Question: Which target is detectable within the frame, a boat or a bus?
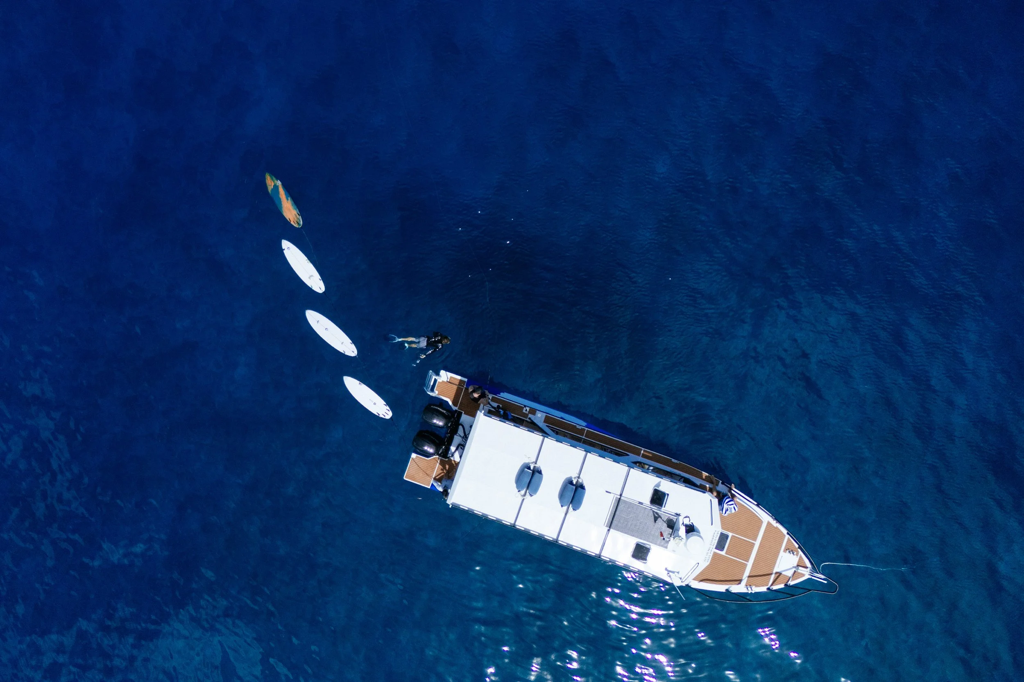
boat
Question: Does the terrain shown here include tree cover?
No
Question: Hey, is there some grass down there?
No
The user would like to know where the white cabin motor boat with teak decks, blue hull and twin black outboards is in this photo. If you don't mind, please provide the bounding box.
[404,370,839,602]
